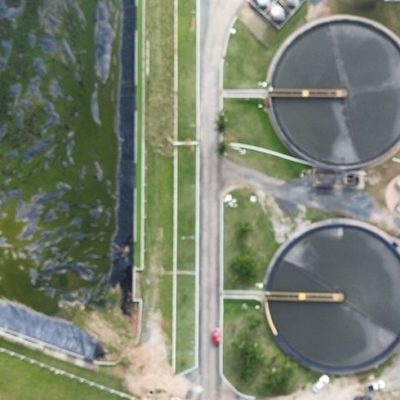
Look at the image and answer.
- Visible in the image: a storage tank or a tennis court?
storage tank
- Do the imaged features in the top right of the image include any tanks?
Yes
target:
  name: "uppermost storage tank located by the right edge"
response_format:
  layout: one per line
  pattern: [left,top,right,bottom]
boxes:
[263,12,400,169]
